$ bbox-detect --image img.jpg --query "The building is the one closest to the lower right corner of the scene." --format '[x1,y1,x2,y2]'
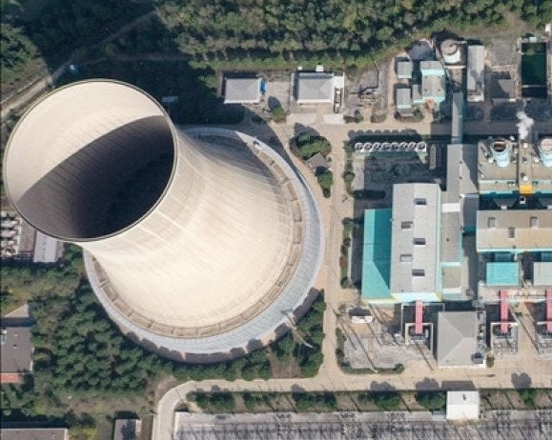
[446,391,482,421]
